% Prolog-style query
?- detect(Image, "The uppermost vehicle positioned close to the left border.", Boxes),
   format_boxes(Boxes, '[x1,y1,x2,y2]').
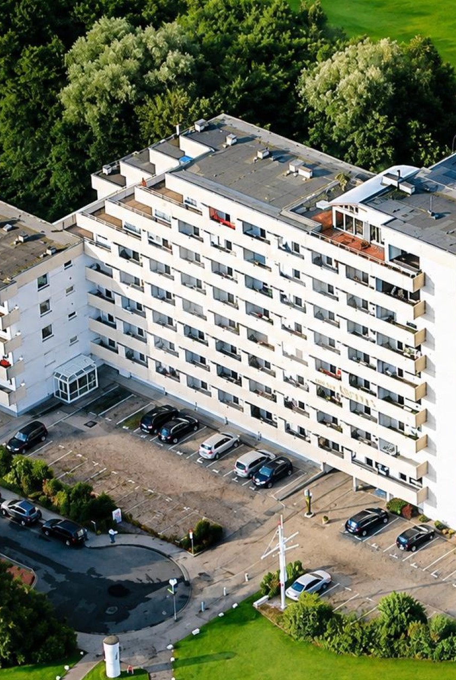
[5,419,49,450]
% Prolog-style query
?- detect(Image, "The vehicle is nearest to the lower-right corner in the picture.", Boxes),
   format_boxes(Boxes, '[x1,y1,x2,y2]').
[390,525,431,553]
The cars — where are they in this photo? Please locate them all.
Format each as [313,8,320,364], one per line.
[345,504,388,535]
[250,456,291,487]
[136,405,180,432]
[153,415,197,443]
[287,566,332,596]
[390,525,431,553]
[5,419,49,450]
[229,449,272,478]
[0,499,42,527]
[195,431,238,459]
